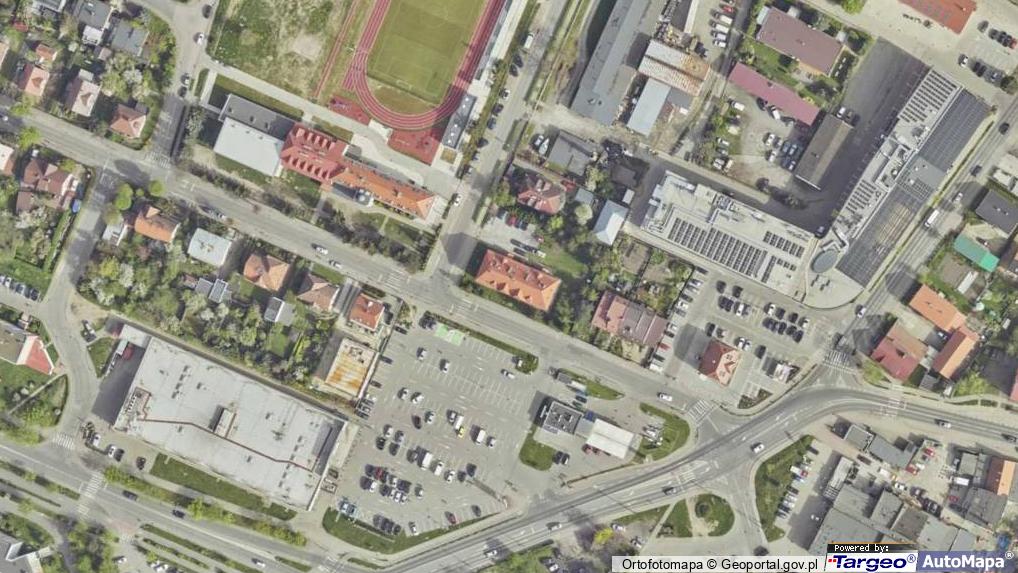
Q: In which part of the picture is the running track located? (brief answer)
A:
top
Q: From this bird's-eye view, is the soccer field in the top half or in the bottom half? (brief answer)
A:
top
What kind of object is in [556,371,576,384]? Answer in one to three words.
vehicle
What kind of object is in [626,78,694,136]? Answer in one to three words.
building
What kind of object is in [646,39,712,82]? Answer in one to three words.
shed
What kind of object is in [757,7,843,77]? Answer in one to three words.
house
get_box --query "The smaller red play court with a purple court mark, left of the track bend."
[327,95,371,124]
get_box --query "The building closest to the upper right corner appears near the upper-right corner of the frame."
[901,0,976,34]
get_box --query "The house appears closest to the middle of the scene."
[475,250,562,311]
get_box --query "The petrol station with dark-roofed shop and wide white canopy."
[541,402,635,459]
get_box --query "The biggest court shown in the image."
[390,113,450,165]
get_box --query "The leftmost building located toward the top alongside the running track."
[214,97,439,220]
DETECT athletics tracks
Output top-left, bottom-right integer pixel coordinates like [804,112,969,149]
[338,0,503,130]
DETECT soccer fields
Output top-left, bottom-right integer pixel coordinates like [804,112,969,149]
[363,0,484,101]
